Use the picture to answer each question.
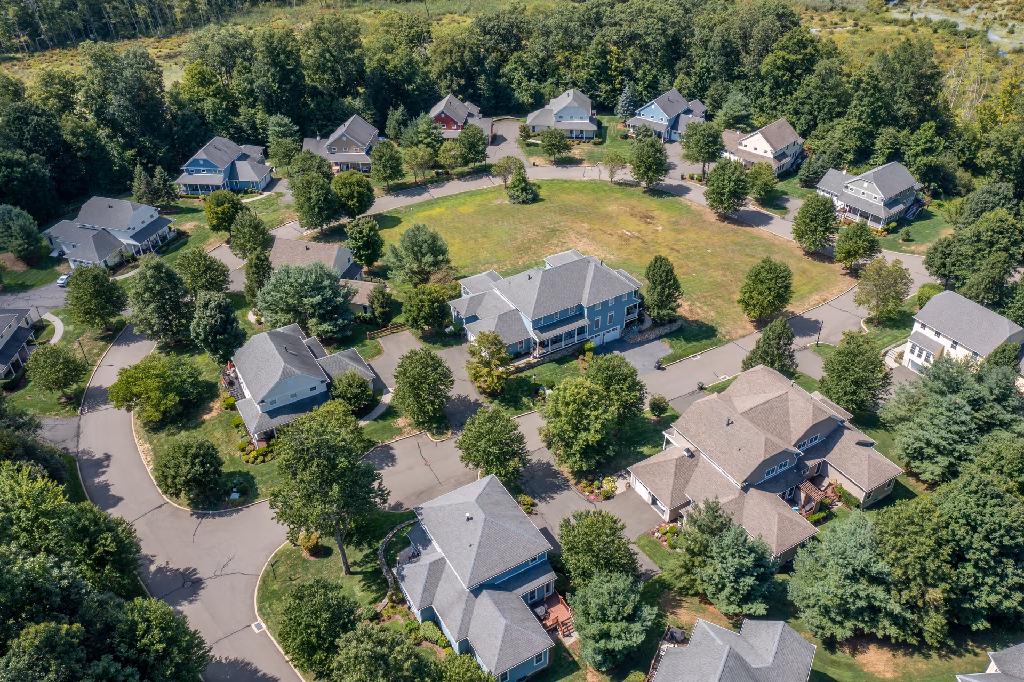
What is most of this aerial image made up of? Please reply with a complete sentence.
The largest share of the image is taken up by trees.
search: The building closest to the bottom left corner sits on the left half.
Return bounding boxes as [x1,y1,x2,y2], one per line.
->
[0,306,40,386]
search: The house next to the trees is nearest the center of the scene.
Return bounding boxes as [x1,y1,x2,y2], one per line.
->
[451,249,647,365]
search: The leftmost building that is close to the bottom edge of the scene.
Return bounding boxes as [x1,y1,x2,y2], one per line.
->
[392,474,576,682]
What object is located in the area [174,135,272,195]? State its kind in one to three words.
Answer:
house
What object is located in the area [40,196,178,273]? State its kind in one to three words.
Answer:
house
